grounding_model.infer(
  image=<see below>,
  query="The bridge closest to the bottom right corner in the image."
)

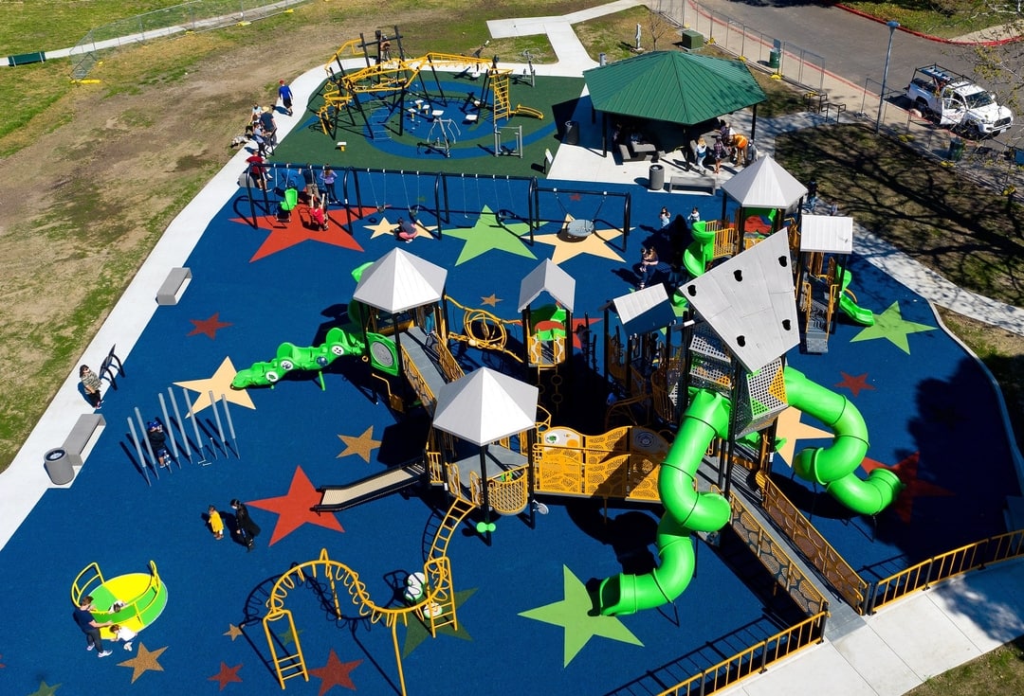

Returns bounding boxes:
[535,429,704,537]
